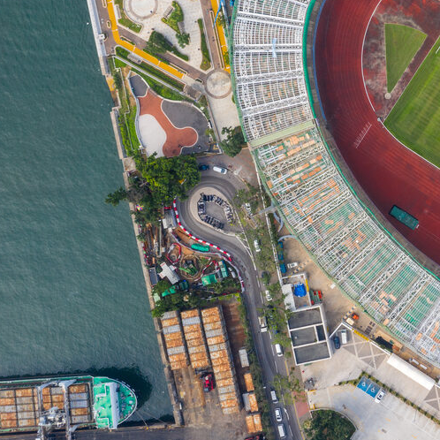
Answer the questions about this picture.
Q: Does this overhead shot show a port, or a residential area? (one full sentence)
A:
The area seen from above is a port.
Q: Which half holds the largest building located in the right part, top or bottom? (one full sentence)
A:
You can find the largest building located in the right part in the bottom half.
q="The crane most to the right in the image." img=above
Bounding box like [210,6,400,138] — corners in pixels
[61,373,86,440]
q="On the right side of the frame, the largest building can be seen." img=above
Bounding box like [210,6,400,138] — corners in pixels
[286,299,335,366]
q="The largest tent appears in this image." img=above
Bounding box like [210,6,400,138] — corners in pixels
[387,353,435,391]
